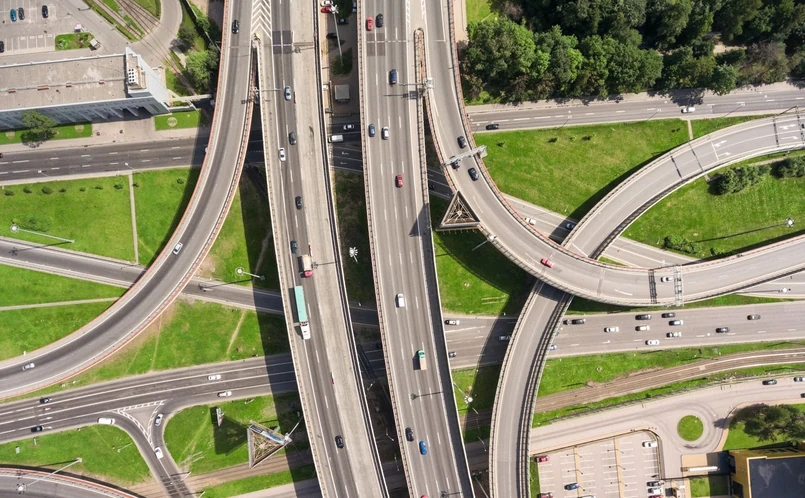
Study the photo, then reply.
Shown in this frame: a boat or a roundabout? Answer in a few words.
roundabout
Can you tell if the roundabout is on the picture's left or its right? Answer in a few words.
right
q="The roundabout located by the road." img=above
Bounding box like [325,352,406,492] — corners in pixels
[660,396,721,461]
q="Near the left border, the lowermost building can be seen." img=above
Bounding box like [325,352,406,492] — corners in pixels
[0,47,170,130]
